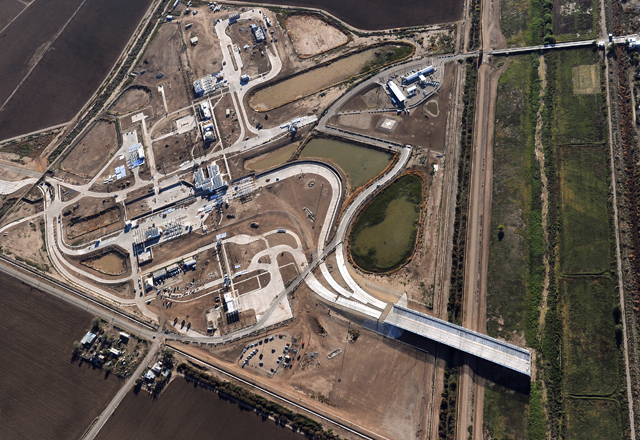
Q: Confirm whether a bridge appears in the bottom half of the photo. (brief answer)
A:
Yes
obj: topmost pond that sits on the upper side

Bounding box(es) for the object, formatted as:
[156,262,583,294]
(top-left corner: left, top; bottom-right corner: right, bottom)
[249,42,409,111]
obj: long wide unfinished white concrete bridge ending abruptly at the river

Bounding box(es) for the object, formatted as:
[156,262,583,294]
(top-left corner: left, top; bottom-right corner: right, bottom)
[384,305,531,376]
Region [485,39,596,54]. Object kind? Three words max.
bridge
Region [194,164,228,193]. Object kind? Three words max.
building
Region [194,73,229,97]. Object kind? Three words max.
building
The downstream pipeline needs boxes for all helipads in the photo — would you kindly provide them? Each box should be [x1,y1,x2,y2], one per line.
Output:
[376,114,401,132]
